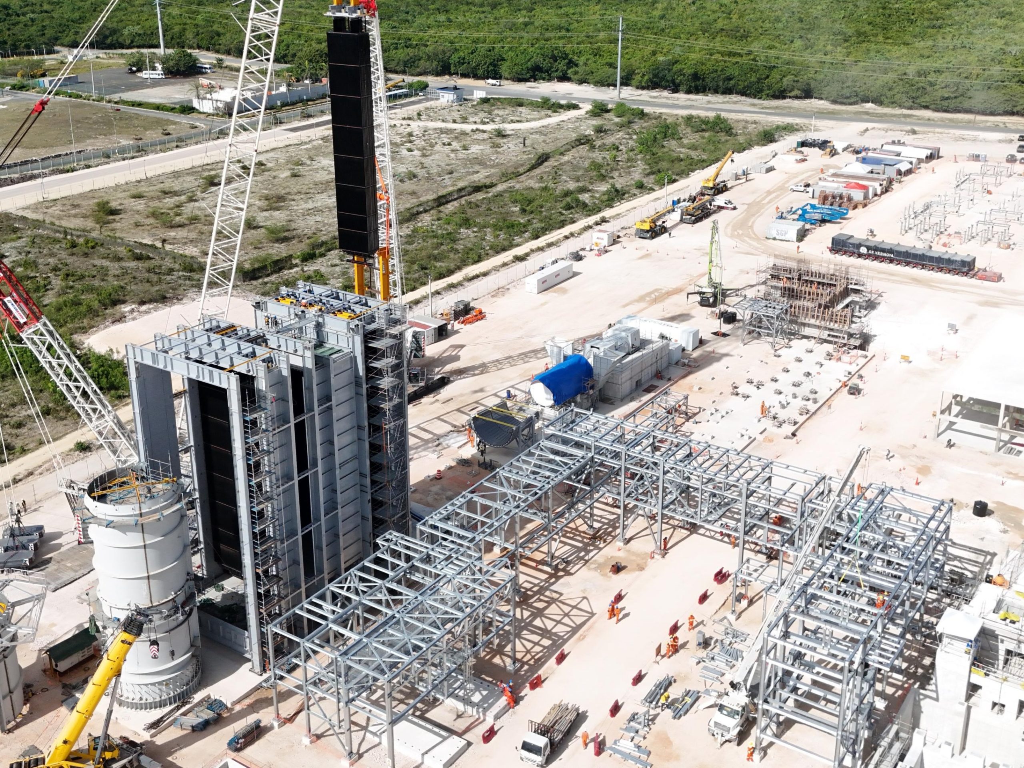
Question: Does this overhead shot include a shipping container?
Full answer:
Yes, looking at the shot, I can spot a shipping container.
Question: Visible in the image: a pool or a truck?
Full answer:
Of the two, only a truck appears.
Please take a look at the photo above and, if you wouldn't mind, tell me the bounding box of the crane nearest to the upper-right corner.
[706,127,736,193]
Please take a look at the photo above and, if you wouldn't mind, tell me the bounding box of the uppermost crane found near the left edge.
[0,0,302,560]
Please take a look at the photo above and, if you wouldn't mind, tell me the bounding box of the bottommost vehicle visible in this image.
[518,698,586,765]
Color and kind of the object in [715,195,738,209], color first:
white vehicle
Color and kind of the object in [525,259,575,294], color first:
white shipping container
